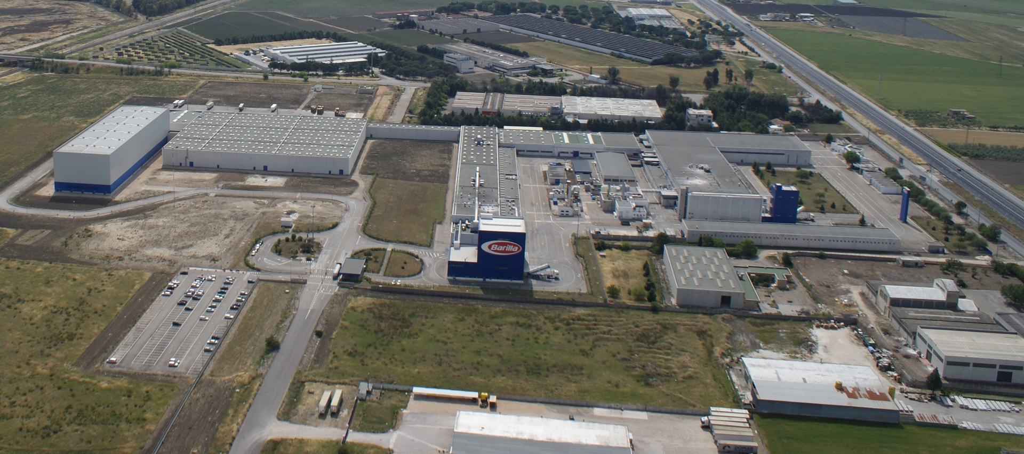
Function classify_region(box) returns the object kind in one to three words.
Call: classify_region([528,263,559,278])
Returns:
vehicle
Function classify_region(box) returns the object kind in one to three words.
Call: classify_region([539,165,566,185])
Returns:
shed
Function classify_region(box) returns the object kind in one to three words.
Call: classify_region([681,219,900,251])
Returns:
building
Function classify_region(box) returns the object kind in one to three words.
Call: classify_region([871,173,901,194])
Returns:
building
